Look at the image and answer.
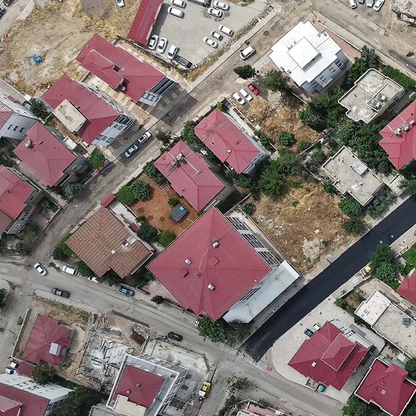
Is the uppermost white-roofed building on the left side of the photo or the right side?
right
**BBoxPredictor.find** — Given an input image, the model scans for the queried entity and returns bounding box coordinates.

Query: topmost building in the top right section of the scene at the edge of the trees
[268,21,346,90]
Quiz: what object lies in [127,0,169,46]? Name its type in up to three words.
shed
